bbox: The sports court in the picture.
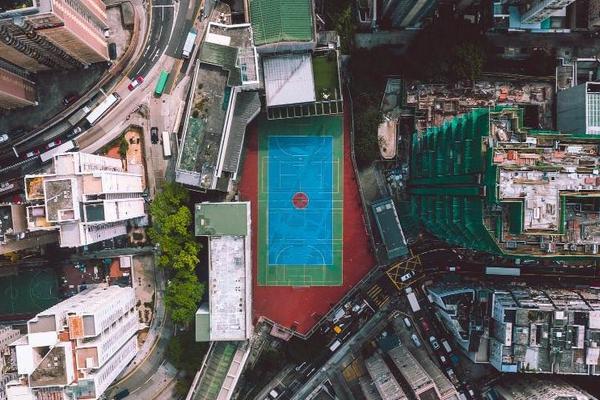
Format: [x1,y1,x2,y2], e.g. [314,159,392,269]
[238,90,376,338]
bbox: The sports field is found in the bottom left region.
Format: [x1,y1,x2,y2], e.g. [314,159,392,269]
[0,261,60,329]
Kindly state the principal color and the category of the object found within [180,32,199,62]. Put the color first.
white vehicle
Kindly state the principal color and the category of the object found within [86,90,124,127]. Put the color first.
white bus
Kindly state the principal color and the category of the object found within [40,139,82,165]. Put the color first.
white bus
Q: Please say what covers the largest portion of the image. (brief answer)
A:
buildings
